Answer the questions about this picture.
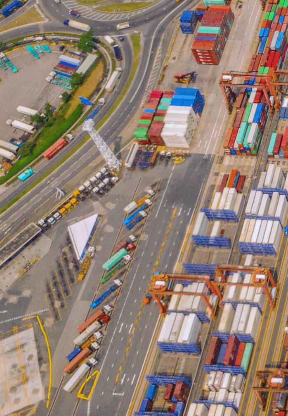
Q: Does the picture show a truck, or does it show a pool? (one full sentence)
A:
Of the two, only a truck appears.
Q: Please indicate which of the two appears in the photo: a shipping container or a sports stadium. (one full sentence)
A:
The one in the frame is a shipping container.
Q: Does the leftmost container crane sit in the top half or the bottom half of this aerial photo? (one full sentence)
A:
The leftmost container crane is in the bottom half of the image.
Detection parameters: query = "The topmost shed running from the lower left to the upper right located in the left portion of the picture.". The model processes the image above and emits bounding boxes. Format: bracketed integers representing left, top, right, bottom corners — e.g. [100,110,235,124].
[75,55,100,78]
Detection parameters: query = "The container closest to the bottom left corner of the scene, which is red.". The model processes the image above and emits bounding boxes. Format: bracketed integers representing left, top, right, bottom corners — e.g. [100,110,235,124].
[62,347,93,373]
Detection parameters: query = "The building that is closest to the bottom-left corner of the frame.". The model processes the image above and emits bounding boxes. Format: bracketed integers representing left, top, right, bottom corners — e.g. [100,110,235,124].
[0,222,45,271]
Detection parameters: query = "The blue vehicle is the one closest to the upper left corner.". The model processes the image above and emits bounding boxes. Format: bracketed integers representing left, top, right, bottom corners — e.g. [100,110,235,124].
[0,0,27,17]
